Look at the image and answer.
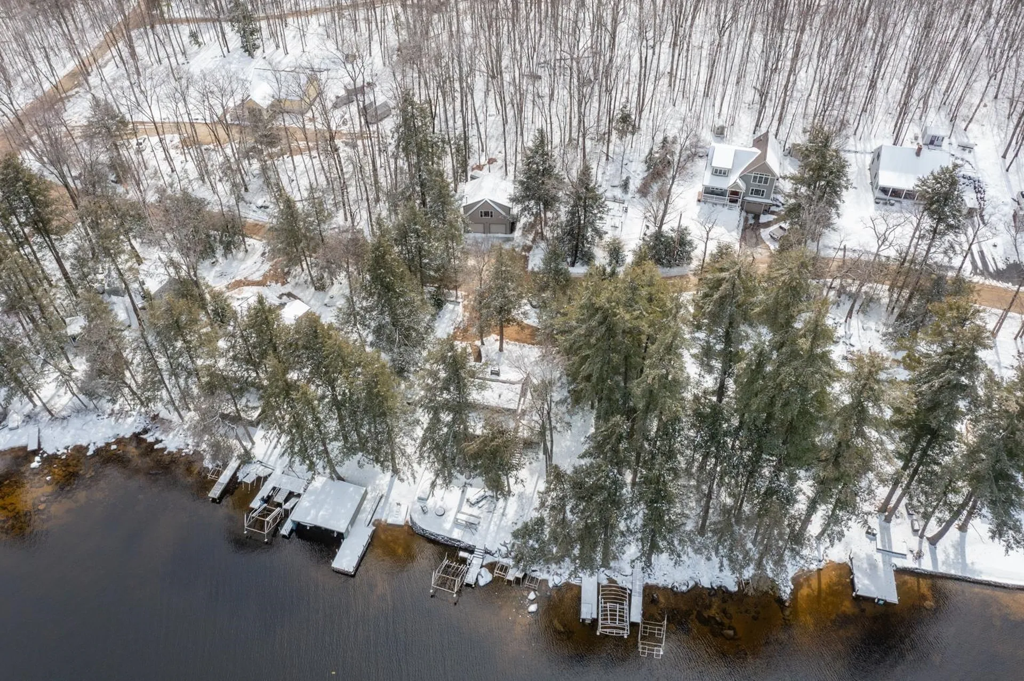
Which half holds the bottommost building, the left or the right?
left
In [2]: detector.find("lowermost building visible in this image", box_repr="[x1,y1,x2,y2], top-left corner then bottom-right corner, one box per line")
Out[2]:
[292,476,371,540]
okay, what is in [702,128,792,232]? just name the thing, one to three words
house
